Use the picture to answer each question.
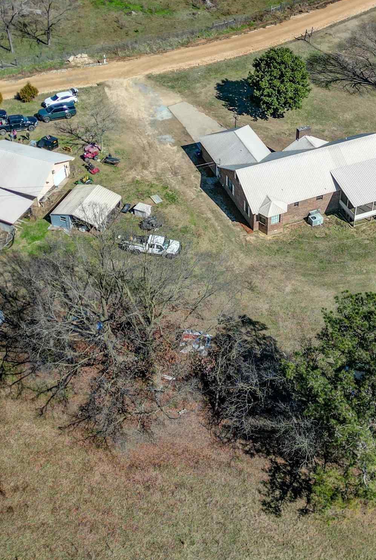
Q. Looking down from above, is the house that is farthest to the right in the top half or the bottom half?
top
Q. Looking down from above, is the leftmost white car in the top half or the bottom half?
top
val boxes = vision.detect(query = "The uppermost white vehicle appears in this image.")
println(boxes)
[41,85,83,107]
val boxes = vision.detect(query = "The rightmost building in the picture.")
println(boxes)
[199,120,376,233]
